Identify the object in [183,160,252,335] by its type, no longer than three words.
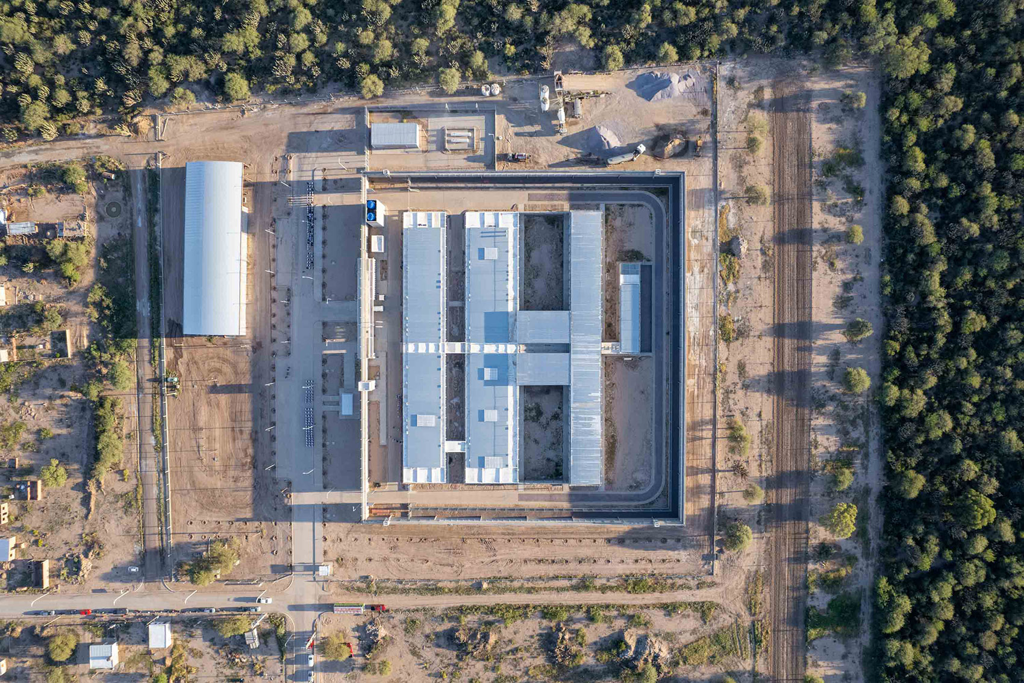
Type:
building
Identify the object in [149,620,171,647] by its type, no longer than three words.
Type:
house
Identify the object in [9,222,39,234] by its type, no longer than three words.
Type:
shed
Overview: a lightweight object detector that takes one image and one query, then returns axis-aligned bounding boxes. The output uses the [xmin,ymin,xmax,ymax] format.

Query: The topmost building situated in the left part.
[371,123,419,148]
